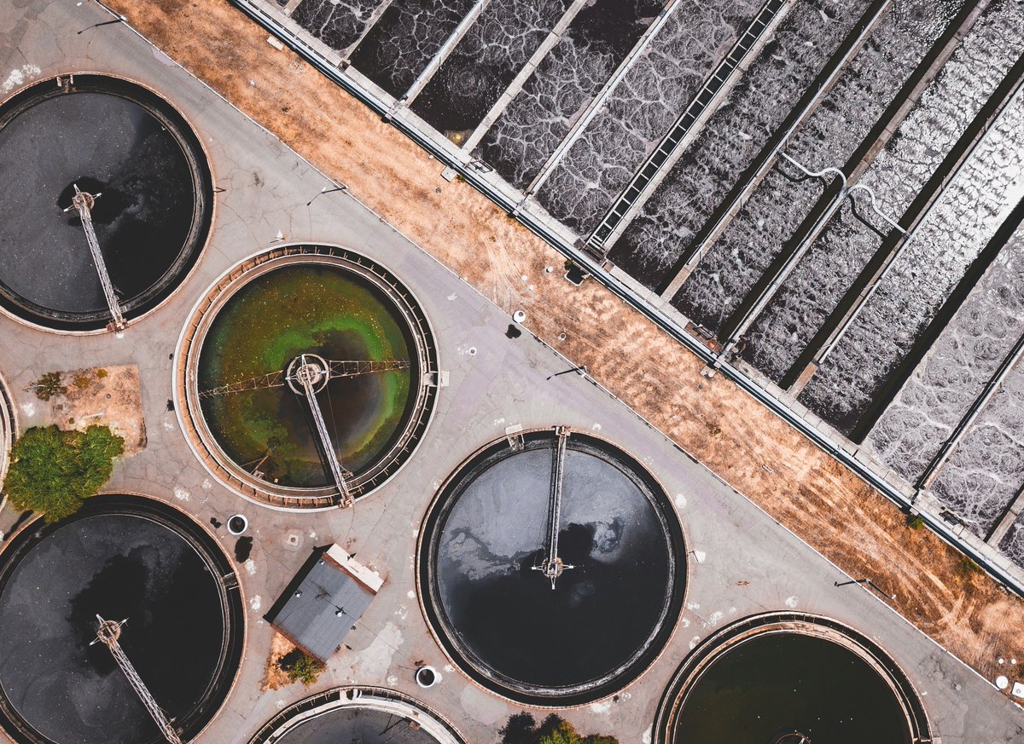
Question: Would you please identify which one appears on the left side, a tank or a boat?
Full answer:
Looking on the left side, you will find a tank.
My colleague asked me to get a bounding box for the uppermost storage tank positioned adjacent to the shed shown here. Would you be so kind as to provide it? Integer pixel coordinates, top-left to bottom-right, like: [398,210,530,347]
[172,244,450,512]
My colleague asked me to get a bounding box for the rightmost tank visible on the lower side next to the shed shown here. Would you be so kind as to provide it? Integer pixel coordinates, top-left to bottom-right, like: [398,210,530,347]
[416,422,690,712]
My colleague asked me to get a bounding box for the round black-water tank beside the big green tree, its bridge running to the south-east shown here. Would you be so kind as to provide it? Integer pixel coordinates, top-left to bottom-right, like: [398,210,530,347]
[0,490,249,744]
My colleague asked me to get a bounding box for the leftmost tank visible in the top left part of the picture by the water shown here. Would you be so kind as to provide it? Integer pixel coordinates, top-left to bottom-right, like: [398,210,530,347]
[0,70,218,335]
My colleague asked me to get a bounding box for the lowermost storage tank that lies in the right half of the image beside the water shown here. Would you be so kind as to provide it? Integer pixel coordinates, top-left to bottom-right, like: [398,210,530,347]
[652,611,939,744]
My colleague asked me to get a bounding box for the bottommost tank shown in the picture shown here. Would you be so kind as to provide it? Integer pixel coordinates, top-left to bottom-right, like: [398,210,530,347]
[245,684,471,744]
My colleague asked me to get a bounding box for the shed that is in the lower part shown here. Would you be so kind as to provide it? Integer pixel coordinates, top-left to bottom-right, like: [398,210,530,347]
[272,543,384,661]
